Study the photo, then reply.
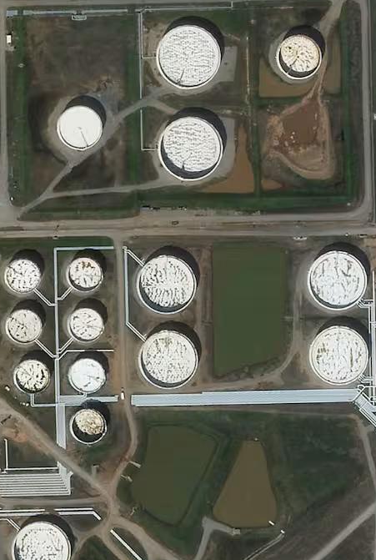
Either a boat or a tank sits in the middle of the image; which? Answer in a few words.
tank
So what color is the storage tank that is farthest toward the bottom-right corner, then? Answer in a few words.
white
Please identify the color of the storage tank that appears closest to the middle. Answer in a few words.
white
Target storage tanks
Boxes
[139,327,199,389]
[57,105,104,152]
[137,253,197,314]
[6,258,42,294]
[71,407,107,444]
[308,250,368,310]
[158,115,224,181]
[277,34,324,80]
[156,24,222,90]
[6,307,43,343]
[14,358,51,395]
[66,255,105,293]
[68,307,105,343]
[309,324,369,384]
[13,521,72,560]
[70,357,107,393]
